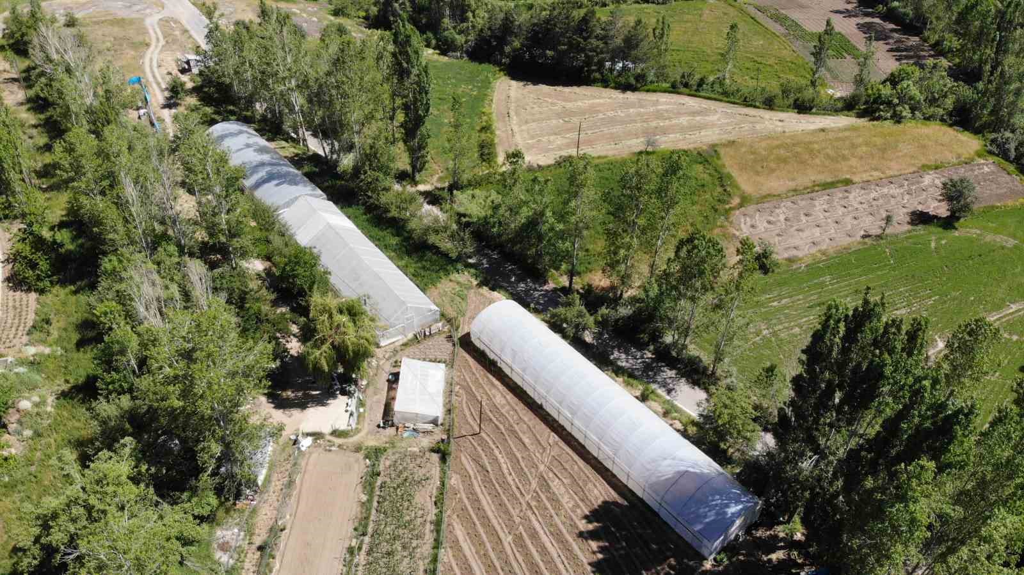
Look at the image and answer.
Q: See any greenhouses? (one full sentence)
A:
Yes, the photo shows a greenhouse.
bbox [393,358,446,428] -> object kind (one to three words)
greenhouse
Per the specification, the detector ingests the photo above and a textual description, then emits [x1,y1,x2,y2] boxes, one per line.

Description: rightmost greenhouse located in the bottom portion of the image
[472,299,756,559]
